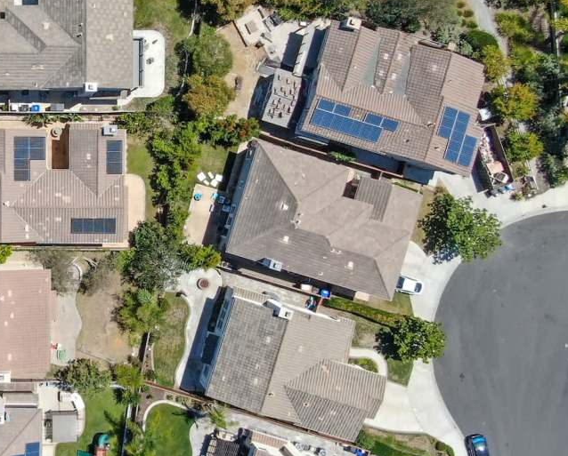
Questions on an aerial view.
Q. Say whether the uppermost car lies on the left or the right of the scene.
right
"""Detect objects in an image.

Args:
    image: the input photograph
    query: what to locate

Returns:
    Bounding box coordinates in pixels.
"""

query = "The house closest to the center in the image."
[221,140,424,301]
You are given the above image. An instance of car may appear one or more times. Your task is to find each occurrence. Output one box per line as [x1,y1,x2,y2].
[394,275,427,296]
[464,433,487,456]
